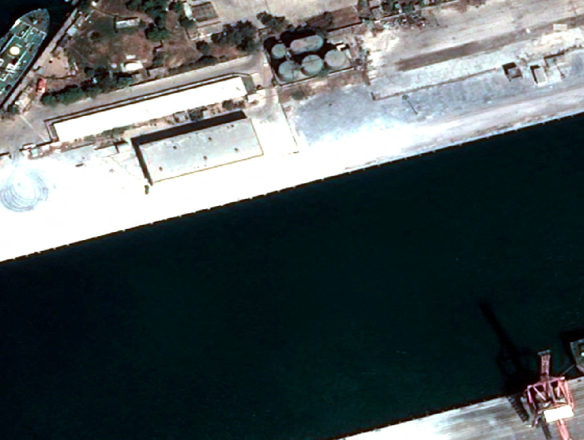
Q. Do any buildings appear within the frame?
Yes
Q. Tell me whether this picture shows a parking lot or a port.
port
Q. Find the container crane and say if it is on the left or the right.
right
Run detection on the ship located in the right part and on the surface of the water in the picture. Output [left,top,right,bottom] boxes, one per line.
[569,339,584,373]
